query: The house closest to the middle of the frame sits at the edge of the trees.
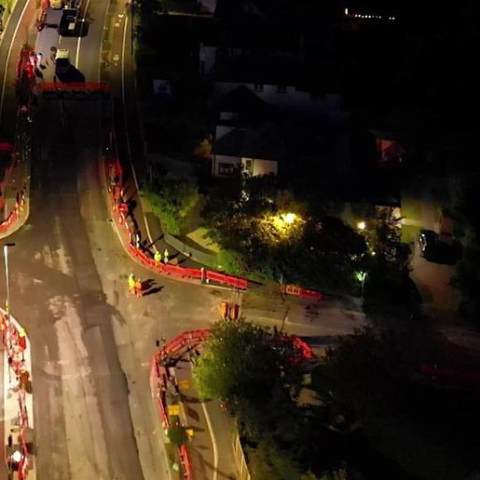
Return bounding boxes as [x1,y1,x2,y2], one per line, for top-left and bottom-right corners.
[208,115,286,181]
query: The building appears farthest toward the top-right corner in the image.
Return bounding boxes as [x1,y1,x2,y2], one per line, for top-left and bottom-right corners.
[363,105,416,167]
